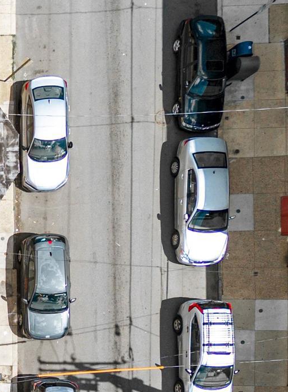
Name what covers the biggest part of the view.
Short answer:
paved ground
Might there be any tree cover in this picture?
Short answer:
No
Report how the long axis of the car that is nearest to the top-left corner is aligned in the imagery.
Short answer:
from top to bottom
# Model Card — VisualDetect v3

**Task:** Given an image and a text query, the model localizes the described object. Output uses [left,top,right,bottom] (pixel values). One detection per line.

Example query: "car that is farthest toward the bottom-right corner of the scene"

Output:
[175,293,240,392]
